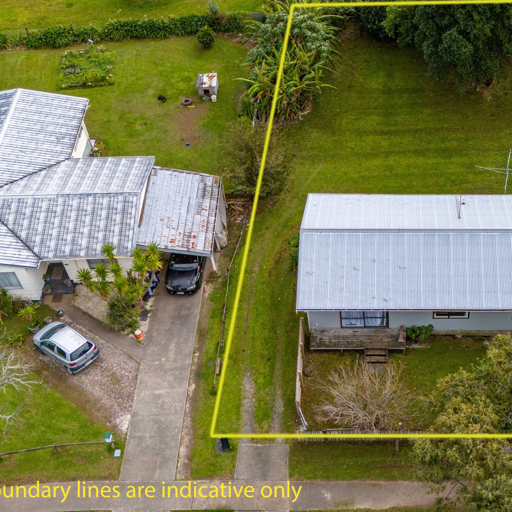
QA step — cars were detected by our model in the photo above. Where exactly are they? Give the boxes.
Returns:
[27,316,102,377]
[165,253,208,296]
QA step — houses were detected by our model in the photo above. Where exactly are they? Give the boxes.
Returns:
[0,84,228,299]
[294,189,512,332]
